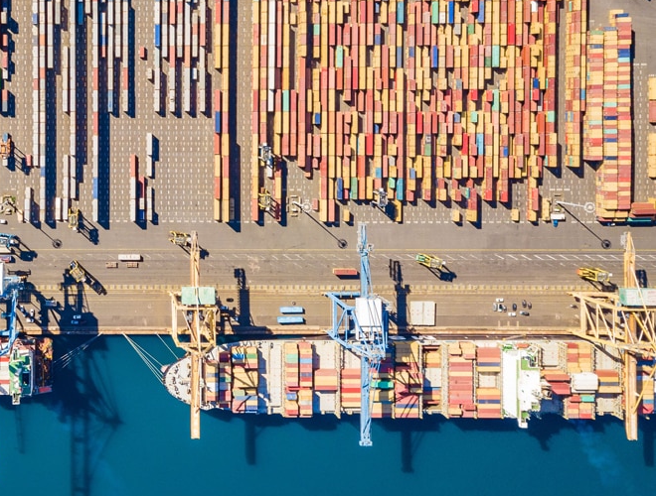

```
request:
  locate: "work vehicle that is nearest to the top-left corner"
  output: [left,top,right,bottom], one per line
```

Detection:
[0,135,13,158]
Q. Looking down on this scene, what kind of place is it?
port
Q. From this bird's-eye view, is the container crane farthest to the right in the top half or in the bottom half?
bottom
